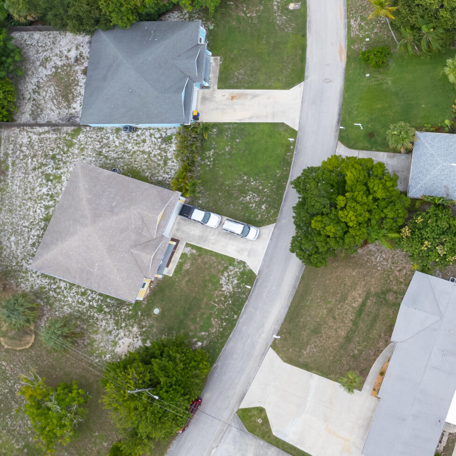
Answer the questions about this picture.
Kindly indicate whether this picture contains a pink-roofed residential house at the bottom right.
No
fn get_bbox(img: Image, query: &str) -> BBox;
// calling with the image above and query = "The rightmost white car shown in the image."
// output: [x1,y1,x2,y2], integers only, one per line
[220,217,260,241]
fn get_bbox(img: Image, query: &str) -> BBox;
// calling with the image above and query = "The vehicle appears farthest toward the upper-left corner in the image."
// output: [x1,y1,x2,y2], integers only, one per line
[178,203,221,228]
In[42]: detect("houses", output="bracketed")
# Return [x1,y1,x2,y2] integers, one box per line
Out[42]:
[30,161,187,304]
[408,132,456,202]
[79,20,216,127]
[362,272,456,456]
